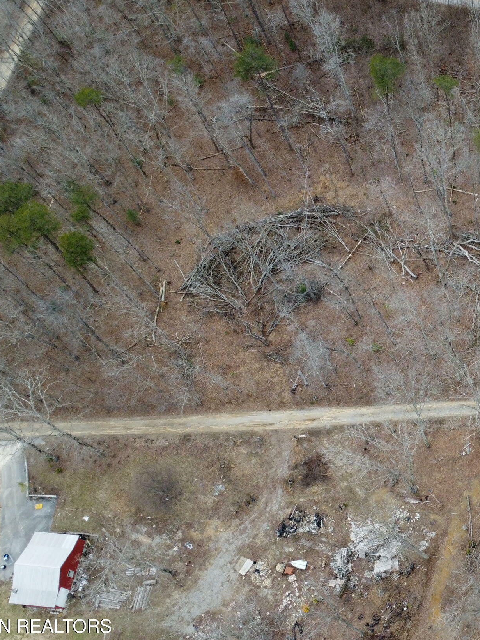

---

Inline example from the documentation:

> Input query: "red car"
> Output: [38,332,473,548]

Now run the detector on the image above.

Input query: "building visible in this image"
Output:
[8,533,85,610]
